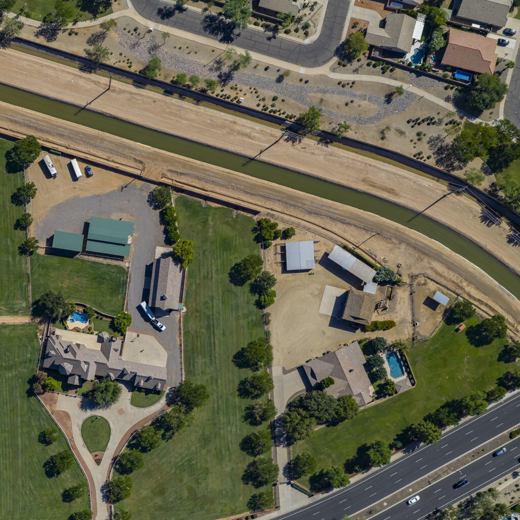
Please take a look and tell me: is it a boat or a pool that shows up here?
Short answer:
pool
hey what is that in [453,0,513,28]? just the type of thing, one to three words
house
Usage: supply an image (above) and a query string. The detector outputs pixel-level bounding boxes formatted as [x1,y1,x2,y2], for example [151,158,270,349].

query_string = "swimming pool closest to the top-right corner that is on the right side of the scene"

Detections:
[453,69,473,83]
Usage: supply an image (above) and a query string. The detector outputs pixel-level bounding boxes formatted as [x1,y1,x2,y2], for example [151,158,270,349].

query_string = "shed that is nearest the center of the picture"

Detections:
[284,241,314,270]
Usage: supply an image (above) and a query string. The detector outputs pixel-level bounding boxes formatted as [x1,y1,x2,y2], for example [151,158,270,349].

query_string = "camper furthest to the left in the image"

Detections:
[42,155,57,178]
